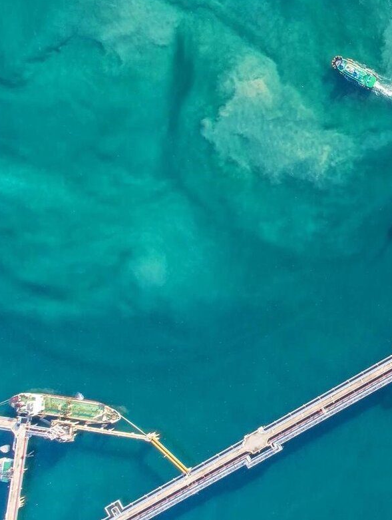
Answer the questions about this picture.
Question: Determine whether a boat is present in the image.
Yes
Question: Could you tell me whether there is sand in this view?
No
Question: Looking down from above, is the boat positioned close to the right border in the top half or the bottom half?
top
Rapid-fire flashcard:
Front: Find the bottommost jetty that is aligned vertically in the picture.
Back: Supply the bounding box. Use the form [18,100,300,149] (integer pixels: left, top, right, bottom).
[5,424,35,520]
